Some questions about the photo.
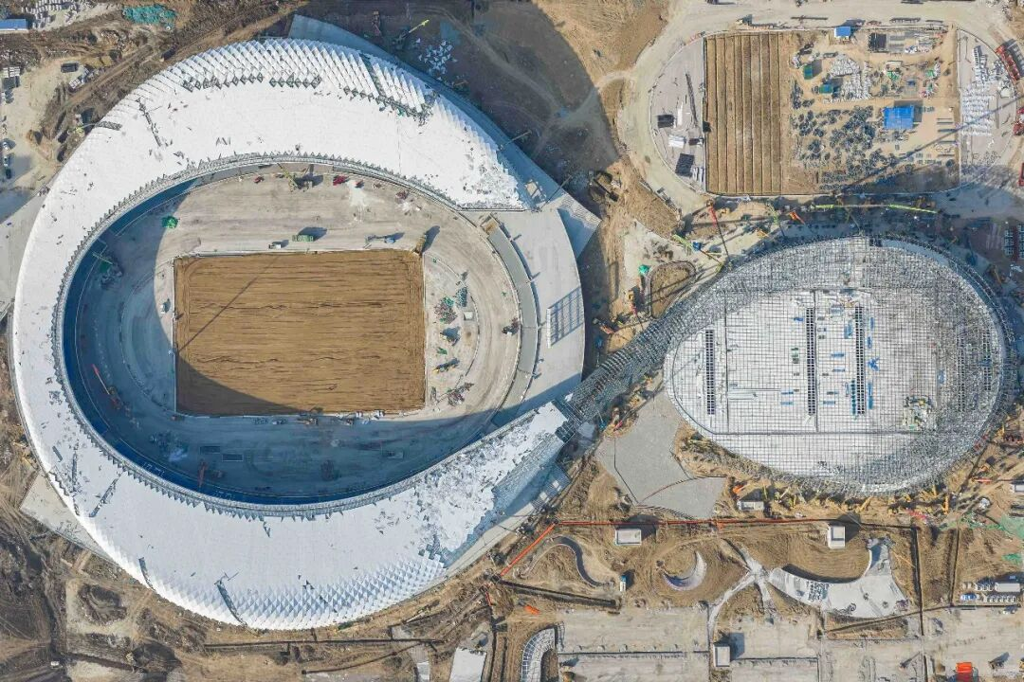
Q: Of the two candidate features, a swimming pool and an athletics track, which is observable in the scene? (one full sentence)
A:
This aerial view contains an athletics track.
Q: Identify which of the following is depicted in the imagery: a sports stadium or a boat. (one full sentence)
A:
Looking from above, you can make out a sports stadium.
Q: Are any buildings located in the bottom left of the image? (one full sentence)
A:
No, in the bottom left of the image there is no building.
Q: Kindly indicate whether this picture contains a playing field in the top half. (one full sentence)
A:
Yes, you'll find a playing field in the top half.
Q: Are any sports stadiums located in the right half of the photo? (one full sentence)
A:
Yes, the scene does show a sports stadium in the right half of the photo.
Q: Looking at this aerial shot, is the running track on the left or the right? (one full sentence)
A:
The running track sits on the left side.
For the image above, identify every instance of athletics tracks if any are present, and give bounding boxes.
[79,170,520,494]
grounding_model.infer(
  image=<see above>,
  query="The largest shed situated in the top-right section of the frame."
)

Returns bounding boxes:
[884,103,916,128]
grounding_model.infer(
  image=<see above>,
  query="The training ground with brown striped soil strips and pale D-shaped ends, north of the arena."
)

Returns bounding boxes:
[649,27,1017,196]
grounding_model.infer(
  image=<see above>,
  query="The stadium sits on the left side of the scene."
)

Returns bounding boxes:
[9,15,599,631]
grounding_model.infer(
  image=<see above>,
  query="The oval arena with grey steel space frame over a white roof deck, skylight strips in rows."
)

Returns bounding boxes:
[662,235,1018,496]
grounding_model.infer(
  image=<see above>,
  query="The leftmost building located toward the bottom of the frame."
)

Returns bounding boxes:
[615,528,642,547]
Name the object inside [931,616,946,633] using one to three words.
work vehicle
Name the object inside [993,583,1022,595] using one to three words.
building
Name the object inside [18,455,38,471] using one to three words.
work vehicle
